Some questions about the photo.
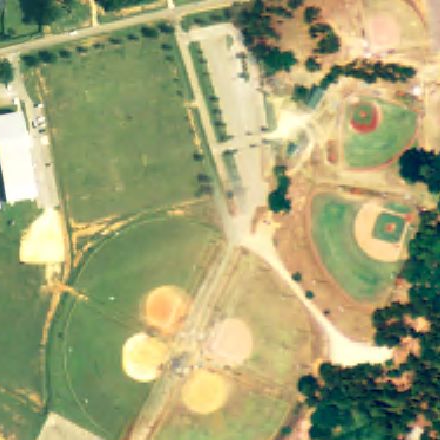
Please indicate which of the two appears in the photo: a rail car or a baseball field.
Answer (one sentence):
The image shows a baseball field.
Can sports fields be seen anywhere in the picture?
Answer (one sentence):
Yes, the photo shows a sports field.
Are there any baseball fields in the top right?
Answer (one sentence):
Yes, looking in the top right, one can make out a baseball field.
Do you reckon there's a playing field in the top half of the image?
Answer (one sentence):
Yes, a playing field appears in the top half of the image.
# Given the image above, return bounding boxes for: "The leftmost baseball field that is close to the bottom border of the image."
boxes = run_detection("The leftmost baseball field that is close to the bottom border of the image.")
[64,292,174,440]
